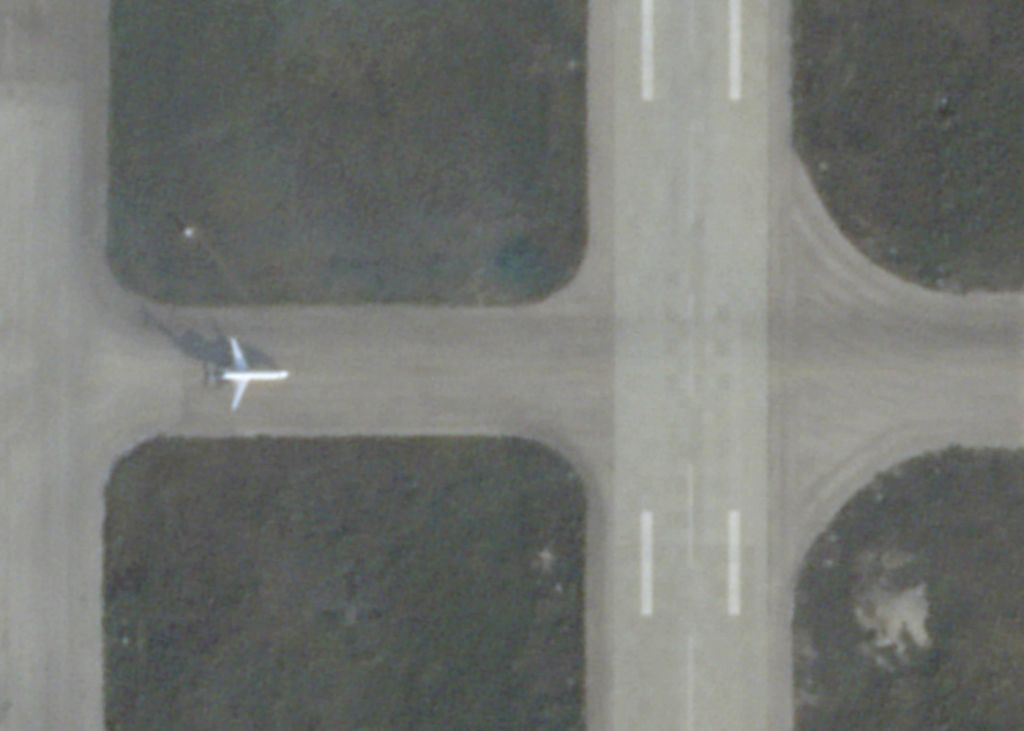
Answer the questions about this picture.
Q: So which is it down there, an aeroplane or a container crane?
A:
aeroplane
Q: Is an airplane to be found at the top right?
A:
No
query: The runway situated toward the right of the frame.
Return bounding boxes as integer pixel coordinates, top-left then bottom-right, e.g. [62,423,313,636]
[615,0,767,731]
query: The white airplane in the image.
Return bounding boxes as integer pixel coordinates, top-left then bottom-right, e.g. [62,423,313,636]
[202,340,288,412]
